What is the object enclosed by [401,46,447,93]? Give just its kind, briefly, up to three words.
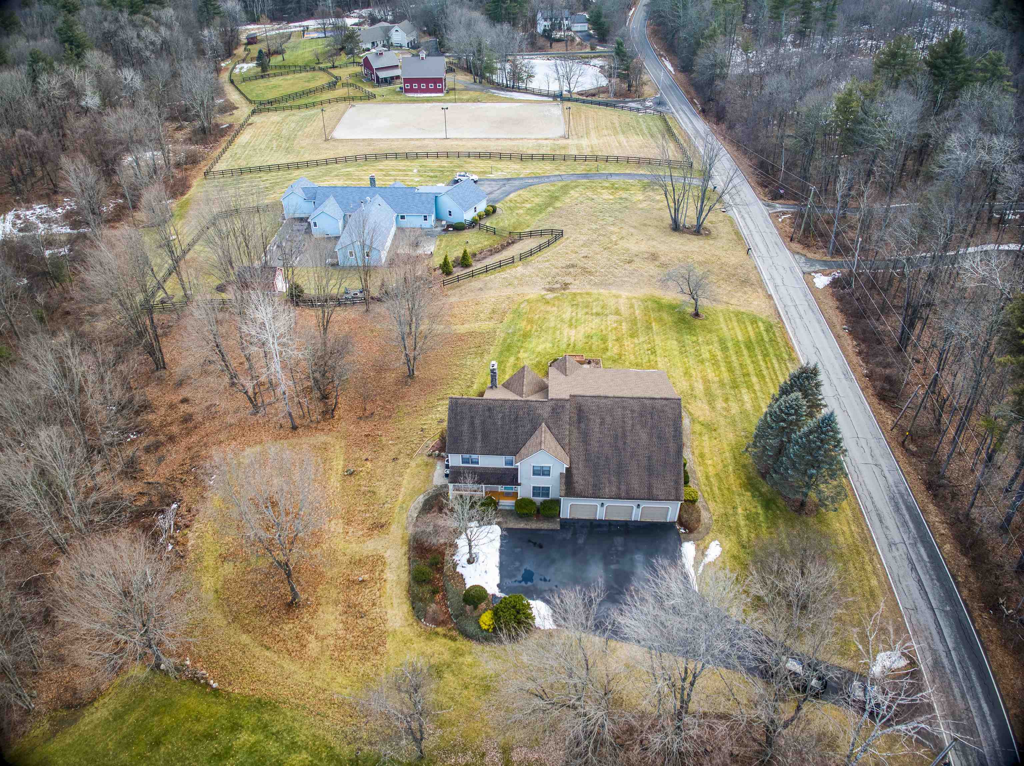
barn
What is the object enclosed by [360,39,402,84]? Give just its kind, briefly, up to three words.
barn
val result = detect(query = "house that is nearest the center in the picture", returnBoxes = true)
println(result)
[445,354,685,522]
